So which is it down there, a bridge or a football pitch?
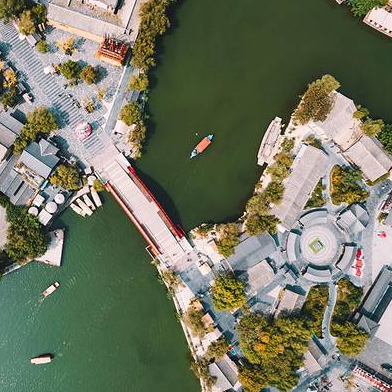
bridge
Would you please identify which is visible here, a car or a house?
house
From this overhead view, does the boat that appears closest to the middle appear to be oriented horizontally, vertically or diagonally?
diagonally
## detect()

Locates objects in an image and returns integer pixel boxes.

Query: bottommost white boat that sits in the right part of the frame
[257,118,282,165]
